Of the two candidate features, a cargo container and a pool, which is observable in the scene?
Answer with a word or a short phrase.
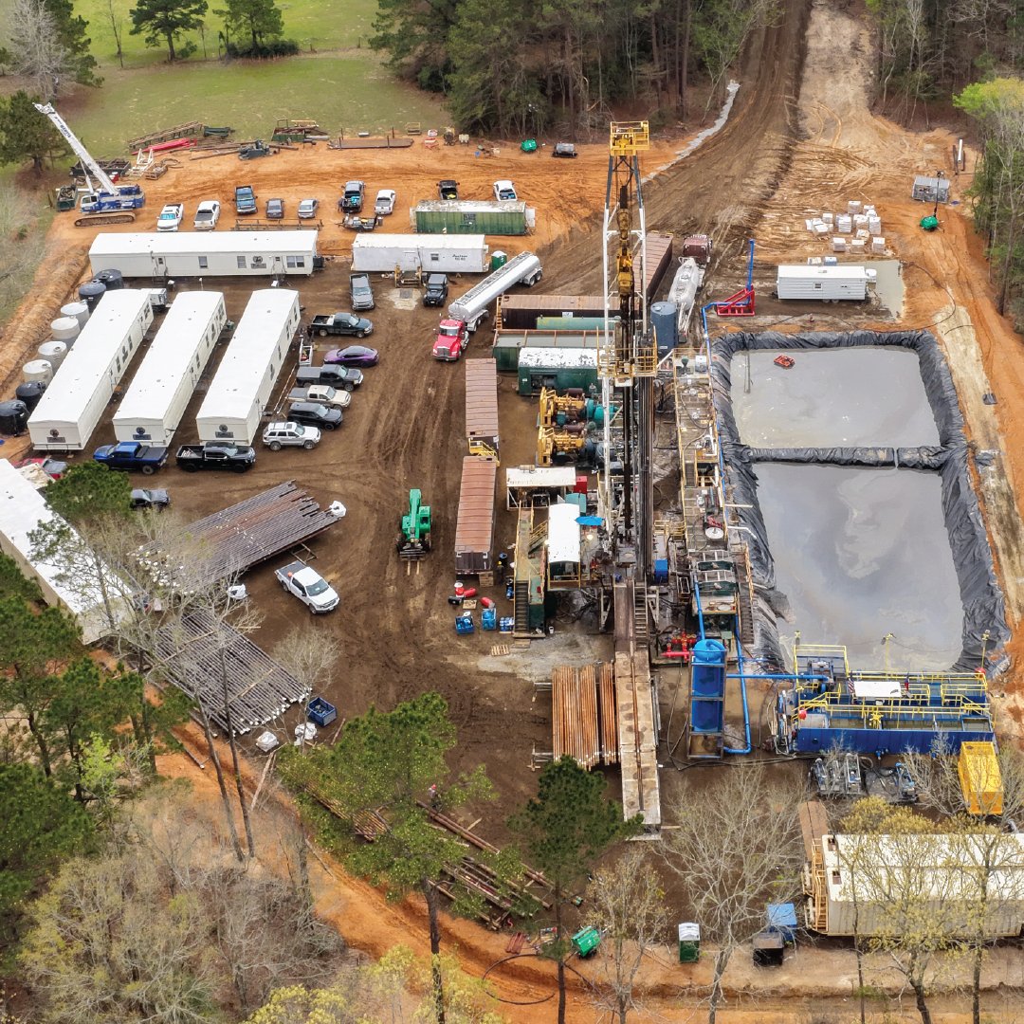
cargo container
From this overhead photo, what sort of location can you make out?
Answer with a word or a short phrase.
industrial area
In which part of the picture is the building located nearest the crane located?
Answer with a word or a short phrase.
top left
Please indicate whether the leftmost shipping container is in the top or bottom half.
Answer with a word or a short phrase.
top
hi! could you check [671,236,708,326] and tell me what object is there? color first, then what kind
white trailer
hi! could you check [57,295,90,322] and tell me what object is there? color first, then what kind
white water tank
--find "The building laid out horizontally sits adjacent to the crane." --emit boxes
[88,232,321,288]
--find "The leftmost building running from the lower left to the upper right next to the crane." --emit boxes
[27,287,156,456]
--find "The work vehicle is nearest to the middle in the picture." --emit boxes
[395,488,432,572]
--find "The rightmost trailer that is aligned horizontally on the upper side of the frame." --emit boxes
[770,267,875,306]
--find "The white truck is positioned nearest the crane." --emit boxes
[156,195,187,229]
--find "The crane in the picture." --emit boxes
[28,100,146,228]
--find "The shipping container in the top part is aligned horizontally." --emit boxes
[407,202,532,238]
